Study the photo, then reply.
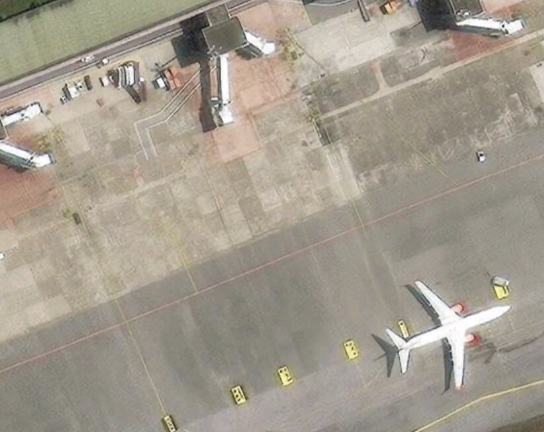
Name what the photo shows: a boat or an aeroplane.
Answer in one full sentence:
This aerial view contains an aeroplane.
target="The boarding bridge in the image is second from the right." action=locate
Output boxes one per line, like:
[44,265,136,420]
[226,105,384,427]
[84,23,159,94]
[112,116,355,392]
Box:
[243,29,279,56]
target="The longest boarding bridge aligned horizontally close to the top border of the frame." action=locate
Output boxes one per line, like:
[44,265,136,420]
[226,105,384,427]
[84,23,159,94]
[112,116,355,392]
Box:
[454,18,526,36]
